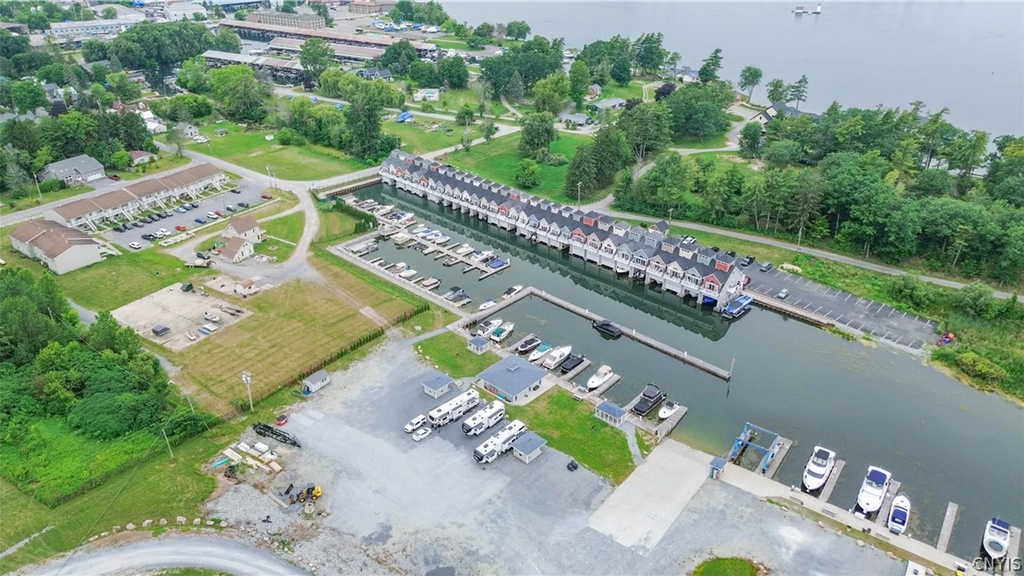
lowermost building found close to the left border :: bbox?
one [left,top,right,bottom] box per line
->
[14,216,120,274]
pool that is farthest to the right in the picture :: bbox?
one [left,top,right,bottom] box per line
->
[414,89,444,101]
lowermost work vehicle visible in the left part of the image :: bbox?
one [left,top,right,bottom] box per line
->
[290,482,324,508]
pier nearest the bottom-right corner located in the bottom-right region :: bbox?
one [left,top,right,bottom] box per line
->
[986,526,1022,576]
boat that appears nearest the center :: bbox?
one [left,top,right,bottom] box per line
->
[499,280,523,299]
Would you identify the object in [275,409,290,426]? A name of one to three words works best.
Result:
work vehicle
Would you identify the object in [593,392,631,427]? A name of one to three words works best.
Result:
building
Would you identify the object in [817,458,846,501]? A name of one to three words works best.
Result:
pier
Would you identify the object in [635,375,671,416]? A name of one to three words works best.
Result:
boat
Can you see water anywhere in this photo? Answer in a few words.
Yes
